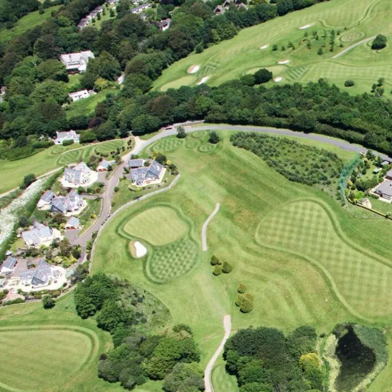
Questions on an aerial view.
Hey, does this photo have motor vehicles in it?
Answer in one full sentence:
No, there isn't any motor vehicle down there.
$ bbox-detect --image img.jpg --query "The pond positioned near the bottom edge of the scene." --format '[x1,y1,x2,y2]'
[333,325,375,392]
